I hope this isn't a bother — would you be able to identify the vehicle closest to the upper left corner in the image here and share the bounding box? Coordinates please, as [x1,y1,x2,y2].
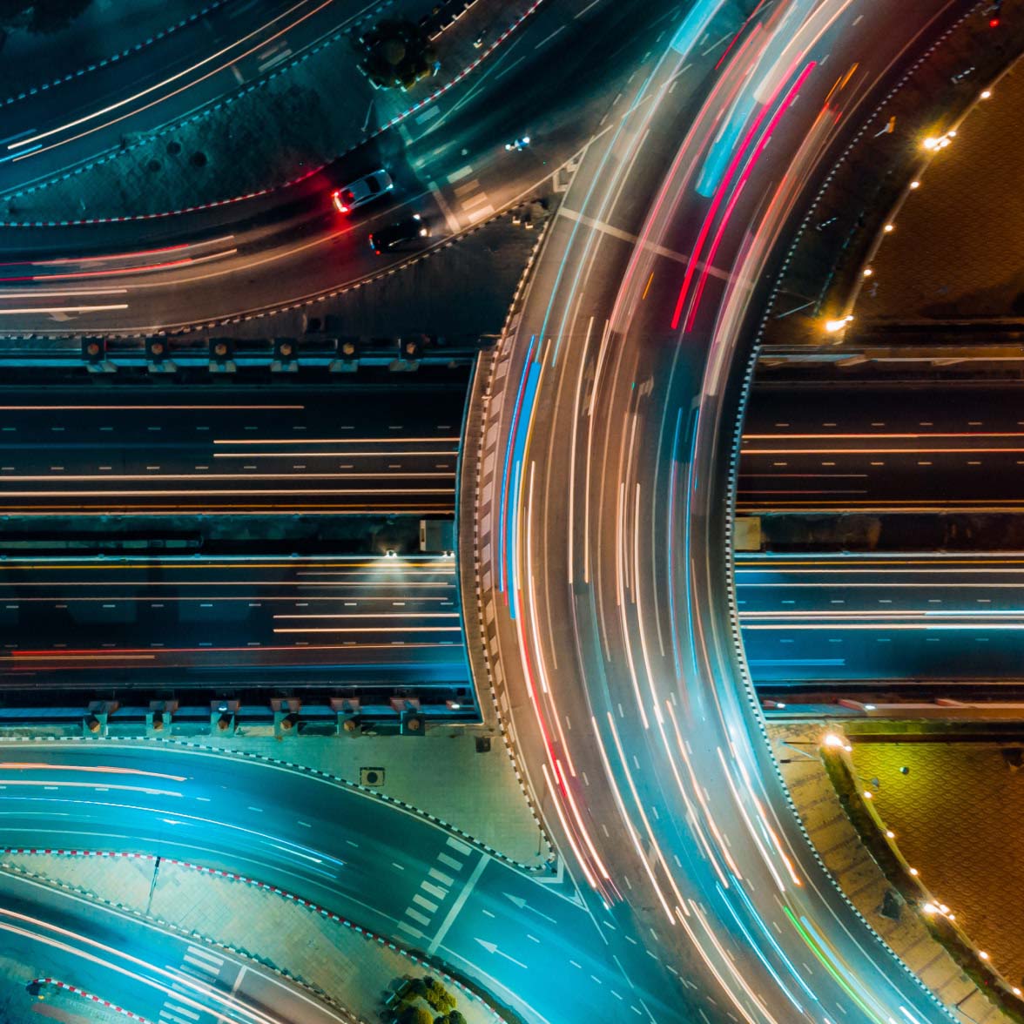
[328,166,393,210]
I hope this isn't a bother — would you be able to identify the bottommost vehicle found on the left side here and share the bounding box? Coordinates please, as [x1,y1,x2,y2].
[364,211,428,252]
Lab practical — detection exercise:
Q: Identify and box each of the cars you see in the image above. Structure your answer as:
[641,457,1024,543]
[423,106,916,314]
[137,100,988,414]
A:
[328,166,393,210]
[364,211,428,252]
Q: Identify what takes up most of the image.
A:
paved ground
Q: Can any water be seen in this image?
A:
No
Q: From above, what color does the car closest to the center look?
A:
black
